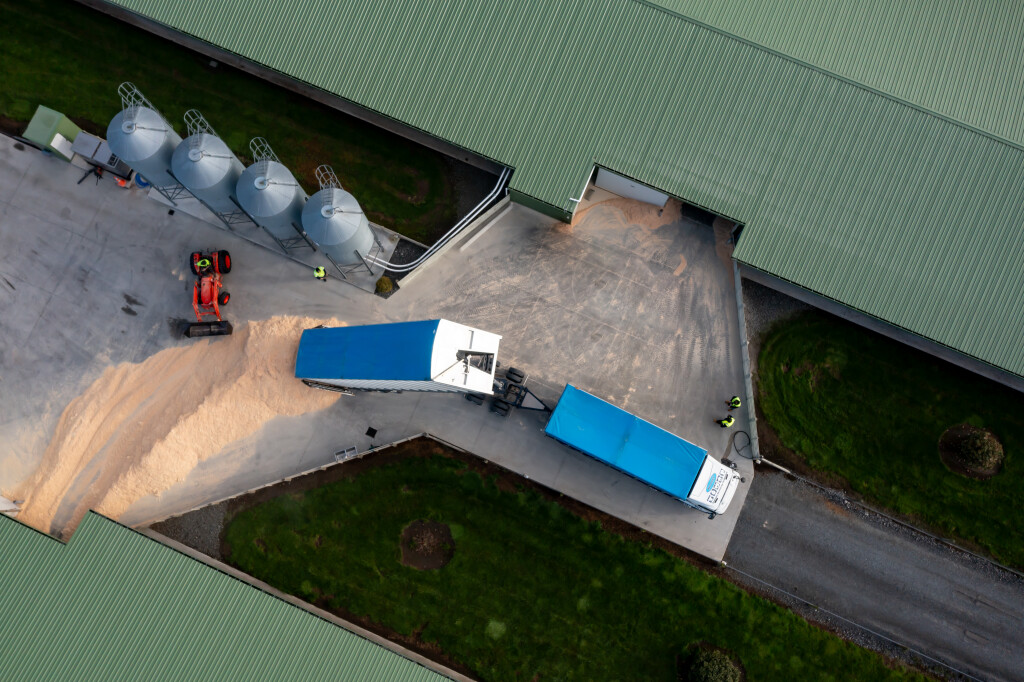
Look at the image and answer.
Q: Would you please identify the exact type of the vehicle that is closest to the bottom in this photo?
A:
truck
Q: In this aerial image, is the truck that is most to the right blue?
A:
Yes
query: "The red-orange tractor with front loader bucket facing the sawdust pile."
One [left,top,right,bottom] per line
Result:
[186,249,235,336]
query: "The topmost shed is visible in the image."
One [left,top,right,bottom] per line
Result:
[61,0,1024,397]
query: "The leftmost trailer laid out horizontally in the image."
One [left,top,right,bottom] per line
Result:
[297,319,555,415]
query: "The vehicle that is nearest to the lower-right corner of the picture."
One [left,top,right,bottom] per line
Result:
[540,384,752,526]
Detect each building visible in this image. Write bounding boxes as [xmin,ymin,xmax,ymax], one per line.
[0,492,480,682]
[61,0,1024,397]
